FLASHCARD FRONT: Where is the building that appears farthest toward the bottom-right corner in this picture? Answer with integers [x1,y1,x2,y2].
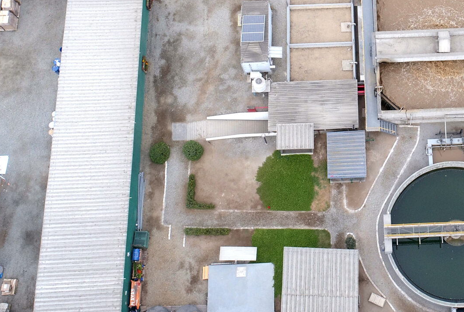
[281,247,359,312]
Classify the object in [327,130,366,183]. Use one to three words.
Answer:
shed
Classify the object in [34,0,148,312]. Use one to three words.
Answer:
shed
